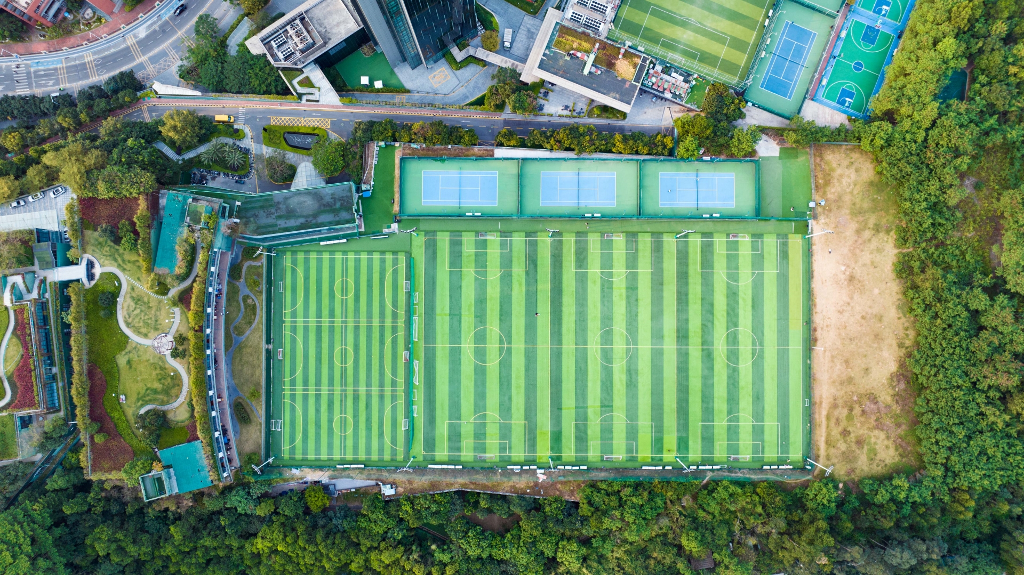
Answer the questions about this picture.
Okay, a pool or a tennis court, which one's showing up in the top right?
tennis court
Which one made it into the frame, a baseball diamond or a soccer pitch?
soccer pitch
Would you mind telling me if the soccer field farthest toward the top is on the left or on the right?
right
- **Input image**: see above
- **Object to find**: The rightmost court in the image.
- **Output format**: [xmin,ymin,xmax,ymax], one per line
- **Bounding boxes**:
[940,69,966,101]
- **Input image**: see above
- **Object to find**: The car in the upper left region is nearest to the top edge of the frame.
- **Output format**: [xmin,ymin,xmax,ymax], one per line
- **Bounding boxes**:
[172,2,186,16]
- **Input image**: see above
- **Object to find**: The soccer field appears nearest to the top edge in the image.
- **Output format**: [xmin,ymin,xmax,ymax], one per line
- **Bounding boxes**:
[609,0,784,86]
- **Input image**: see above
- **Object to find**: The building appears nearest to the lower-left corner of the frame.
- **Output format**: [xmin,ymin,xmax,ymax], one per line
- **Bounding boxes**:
[139,467,177,502]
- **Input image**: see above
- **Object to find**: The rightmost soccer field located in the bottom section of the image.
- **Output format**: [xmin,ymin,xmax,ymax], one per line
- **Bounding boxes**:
[676,232,811,462]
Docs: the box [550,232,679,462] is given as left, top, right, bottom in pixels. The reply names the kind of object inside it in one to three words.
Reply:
soccer field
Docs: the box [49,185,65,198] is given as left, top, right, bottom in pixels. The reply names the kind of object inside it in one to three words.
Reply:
vehicle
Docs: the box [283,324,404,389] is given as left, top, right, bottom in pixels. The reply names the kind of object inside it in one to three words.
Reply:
soccer field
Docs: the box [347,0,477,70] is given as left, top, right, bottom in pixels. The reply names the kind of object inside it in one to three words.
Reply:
building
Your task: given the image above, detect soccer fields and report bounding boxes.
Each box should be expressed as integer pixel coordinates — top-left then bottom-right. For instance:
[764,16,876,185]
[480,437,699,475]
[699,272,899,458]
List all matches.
[283,324,404,389]
[676,232,811,462]
[422,232,553,462]
[282,392,404,457]
[550,232,679,462]
[283,256,405,320]
[609,0,784,86]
